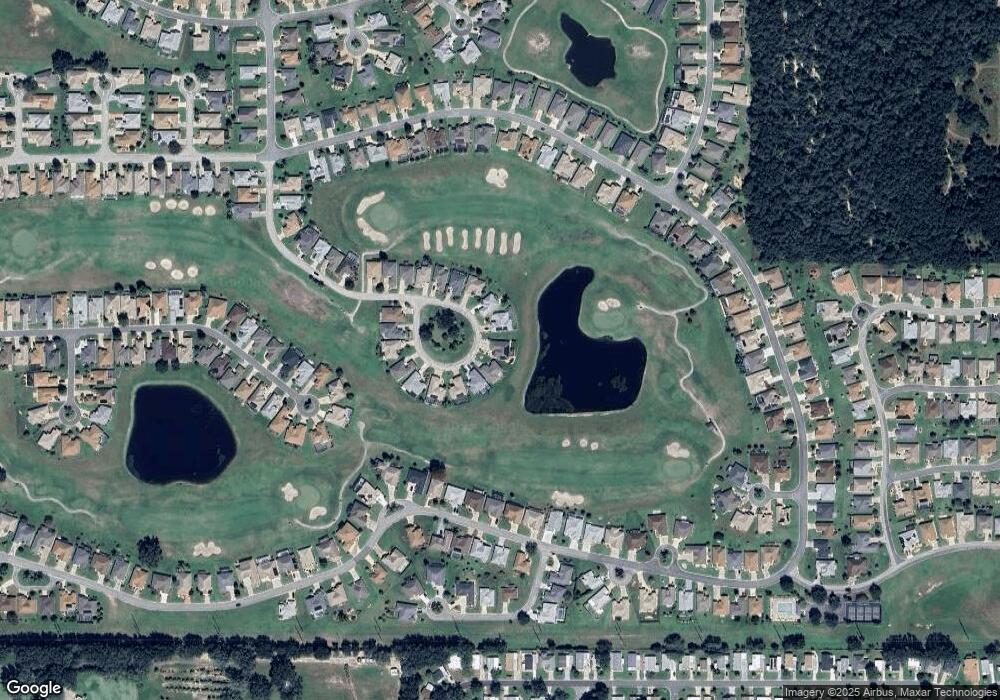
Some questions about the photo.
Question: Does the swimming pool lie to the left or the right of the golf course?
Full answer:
In the image, the swimming pool sits on the right side of the golf course.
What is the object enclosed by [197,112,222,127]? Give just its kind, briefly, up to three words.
house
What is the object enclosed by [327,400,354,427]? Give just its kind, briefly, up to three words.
house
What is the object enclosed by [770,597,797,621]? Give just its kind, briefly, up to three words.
swimming pool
